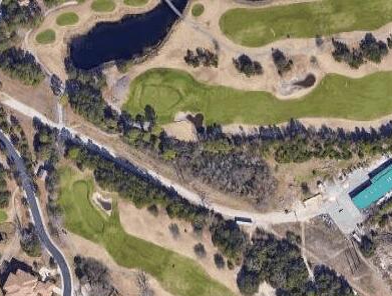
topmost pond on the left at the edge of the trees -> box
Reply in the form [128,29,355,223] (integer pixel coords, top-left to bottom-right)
[70,0,190,69]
